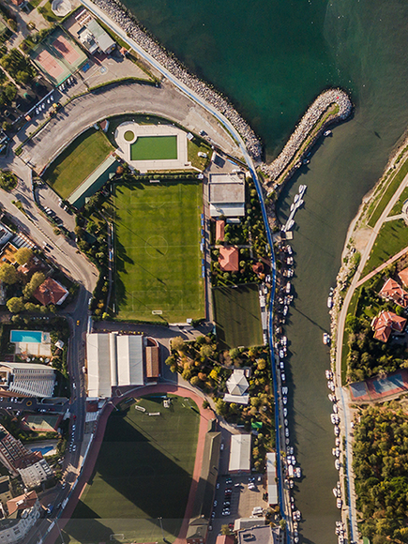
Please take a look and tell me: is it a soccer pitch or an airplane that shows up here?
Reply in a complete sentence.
Visible in the photo is a soccer pitch.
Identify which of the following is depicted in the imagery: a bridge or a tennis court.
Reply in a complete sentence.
I can see a tennis court in this picture.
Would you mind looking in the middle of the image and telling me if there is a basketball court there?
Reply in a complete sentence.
No, looking in the middle of the image, there is no basketball court.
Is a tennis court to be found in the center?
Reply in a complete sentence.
No, there is no tennis court in the center.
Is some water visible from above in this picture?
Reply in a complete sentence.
Yes, there's water in this view.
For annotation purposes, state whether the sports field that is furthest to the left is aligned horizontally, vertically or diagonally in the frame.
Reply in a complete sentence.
In this picture, the sports field that is furthest to the left is oriented diagonally.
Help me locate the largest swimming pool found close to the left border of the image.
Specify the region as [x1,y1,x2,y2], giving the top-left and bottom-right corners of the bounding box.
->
[9,330,52,355]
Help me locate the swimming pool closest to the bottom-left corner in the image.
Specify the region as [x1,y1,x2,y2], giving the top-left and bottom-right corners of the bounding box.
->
[25,443,58,455]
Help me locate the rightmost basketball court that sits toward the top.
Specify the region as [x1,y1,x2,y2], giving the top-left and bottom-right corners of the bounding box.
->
[82,56,125,85]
